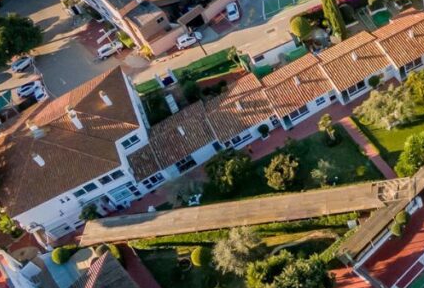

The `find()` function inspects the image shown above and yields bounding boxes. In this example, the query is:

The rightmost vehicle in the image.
[225,1,240,23]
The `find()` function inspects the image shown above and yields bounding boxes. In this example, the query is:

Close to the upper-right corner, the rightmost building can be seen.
[372,11,424,83]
